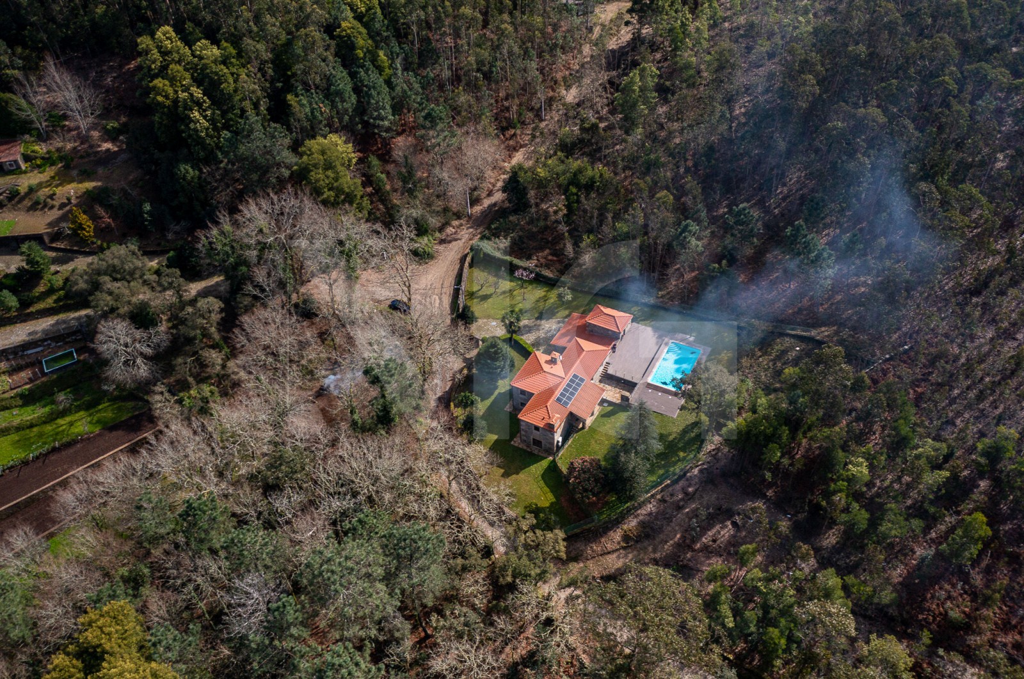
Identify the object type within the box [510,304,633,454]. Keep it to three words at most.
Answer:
house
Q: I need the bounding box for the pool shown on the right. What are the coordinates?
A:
[646,339,702,397]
